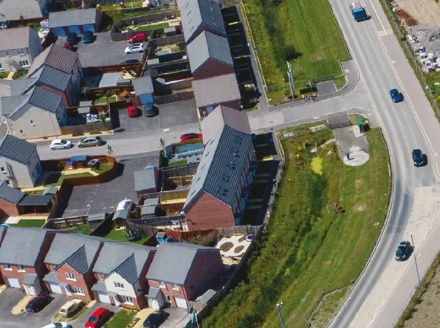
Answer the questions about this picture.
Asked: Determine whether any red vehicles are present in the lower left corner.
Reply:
Yes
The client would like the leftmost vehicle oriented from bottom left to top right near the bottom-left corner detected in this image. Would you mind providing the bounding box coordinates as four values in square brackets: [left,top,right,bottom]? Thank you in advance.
[23,288,55,313]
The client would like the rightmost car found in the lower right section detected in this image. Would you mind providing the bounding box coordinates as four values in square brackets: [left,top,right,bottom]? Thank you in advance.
[393,235,411,258]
